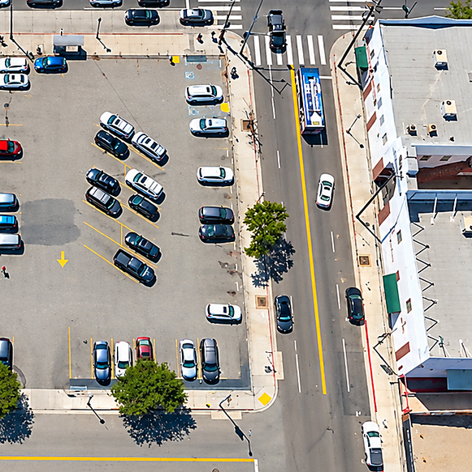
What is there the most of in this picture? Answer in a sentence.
For the most part, this view shows paved ground.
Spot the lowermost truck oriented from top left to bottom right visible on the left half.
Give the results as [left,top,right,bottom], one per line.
[112,249,156,286]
